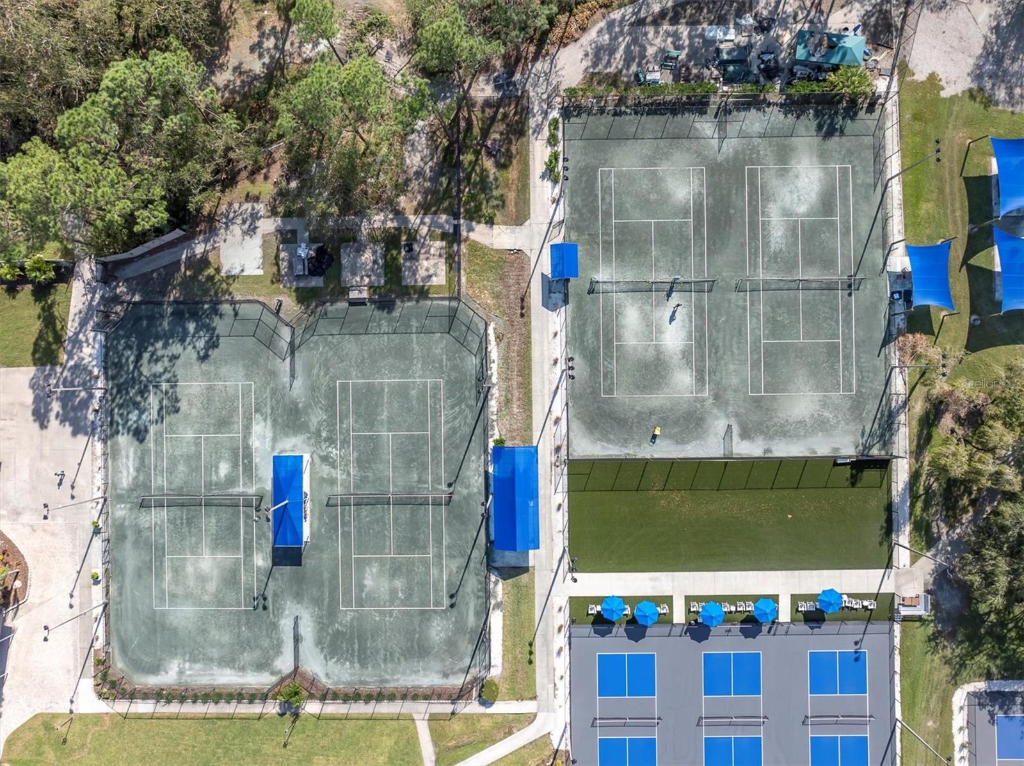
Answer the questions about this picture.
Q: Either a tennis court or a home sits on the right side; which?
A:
tennis court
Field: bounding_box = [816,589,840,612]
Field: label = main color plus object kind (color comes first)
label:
blue umbrella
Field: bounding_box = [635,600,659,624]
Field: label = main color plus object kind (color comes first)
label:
blue umbrella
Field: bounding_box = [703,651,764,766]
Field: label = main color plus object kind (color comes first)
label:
blue sports court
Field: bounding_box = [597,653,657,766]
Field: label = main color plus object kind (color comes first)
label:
blue sports court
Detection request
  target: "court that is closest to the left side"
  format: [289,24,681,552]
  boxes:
[110,303,298,687]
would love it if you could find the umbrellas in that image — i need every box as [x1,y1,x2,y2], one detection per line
[700,603,724,626]
[635,600,659,624]
[816,589,840,612]
[601,598,624,620]
[754,596,777,619]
